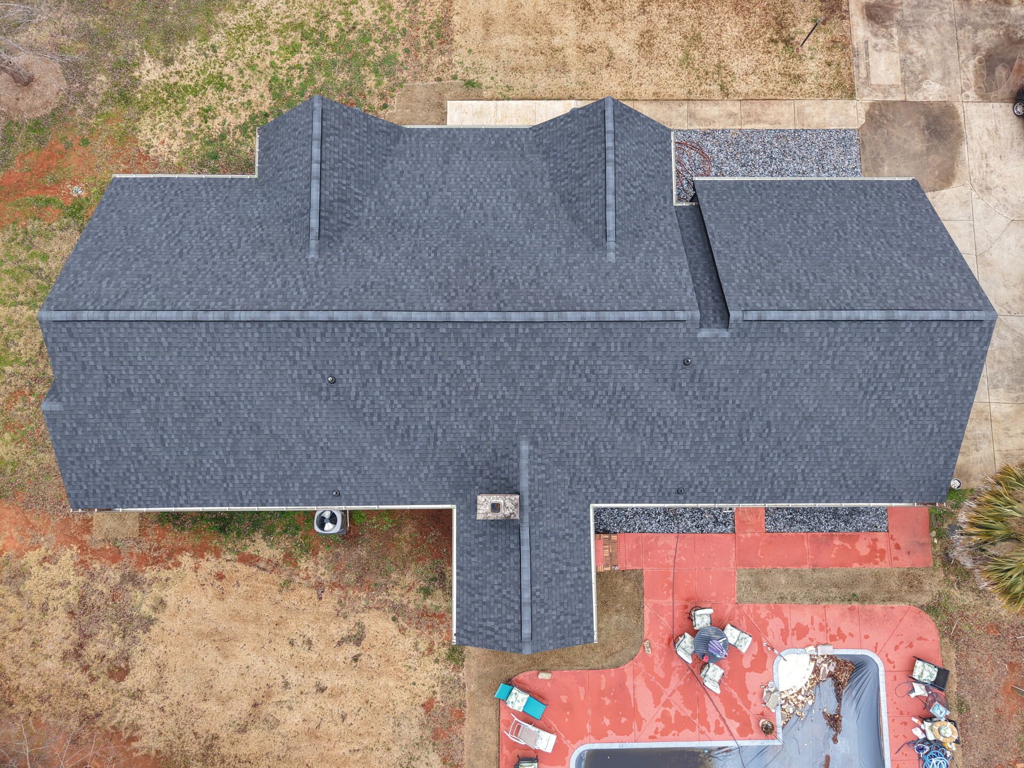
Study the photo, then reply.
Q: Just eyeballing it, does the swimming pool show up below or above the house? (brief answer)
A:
below it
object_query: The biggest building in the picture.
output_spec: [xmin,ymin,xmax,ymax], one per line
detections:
[37,95,997,654]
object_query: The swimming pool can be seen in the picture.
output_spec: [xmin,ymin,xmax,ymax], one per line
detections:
[571,649,890,768]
